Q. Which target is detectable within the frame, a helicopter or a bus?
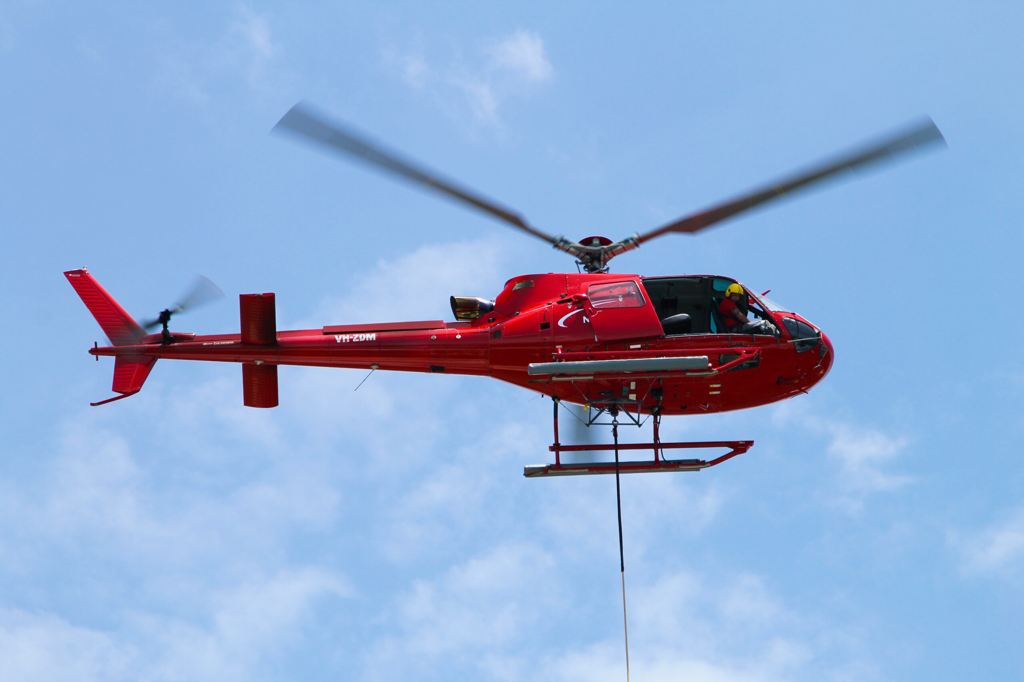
helicopter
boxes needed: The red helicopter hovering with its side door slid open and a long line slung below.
[64,107,942,476]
